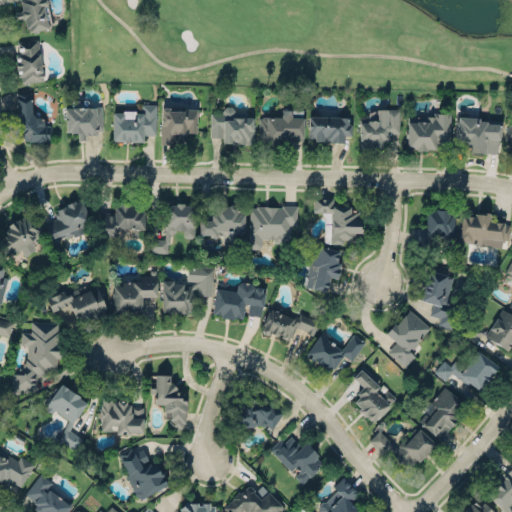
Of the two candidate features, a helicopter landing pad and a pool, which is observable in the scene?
pool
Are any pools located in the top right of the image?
Yes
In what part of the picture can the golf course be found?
top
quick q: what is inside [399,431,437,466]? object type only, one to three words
house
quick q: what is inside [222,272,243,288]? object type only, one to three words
swimming pool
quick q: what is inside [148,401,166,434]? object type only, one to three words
swimming pool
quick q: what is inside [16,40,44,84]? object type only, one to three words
house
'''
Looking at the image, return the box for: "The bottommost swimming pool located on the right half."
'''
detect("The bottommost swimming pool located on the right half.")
[318,481,336,500]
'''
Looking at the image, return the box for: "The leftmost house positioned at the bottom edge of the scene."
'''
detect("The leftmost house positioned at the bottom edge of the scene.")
[0,452,36,488]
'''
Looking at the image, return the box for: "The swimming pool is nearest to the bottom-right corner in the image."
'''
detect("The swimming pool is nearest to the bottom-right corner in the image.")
[385,422,412,444]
